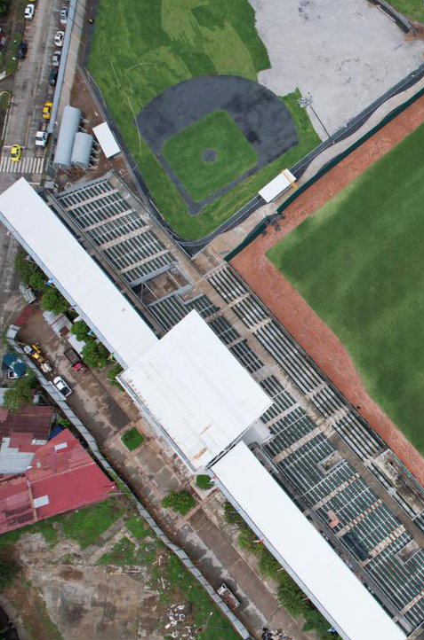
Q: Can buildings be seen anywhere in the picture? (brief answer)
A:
Yes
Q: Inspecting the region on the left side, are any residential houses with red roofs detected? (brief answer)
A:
Yes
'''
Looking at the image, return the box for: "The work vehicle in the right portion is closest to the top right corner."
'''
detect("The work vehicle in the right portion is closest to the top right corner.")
[261,220,276,234]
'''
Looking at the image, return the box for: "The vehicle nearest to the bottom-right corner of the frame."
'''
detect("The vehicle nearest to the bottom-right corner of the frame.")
[217,584,241,611]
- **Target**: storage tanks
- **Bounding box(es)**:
[72,130,100,169]
[53,103,90,169]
